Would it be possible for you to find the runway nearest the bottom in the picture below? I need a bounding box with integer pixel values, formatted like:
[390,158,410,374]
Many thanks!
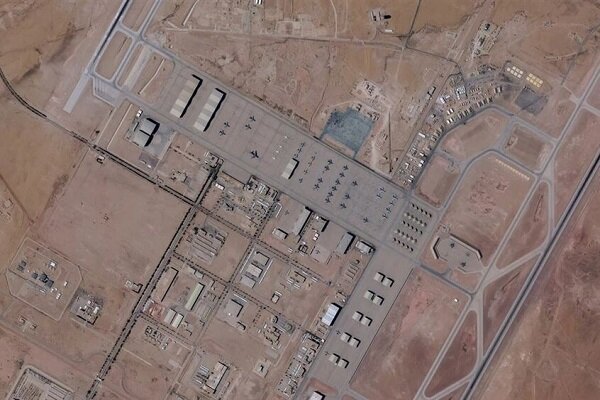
[459,142,600,400]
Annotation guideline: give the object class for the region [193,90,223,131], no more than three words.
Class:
hangar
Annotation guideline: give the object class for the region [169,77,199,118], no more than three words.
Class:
hangar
